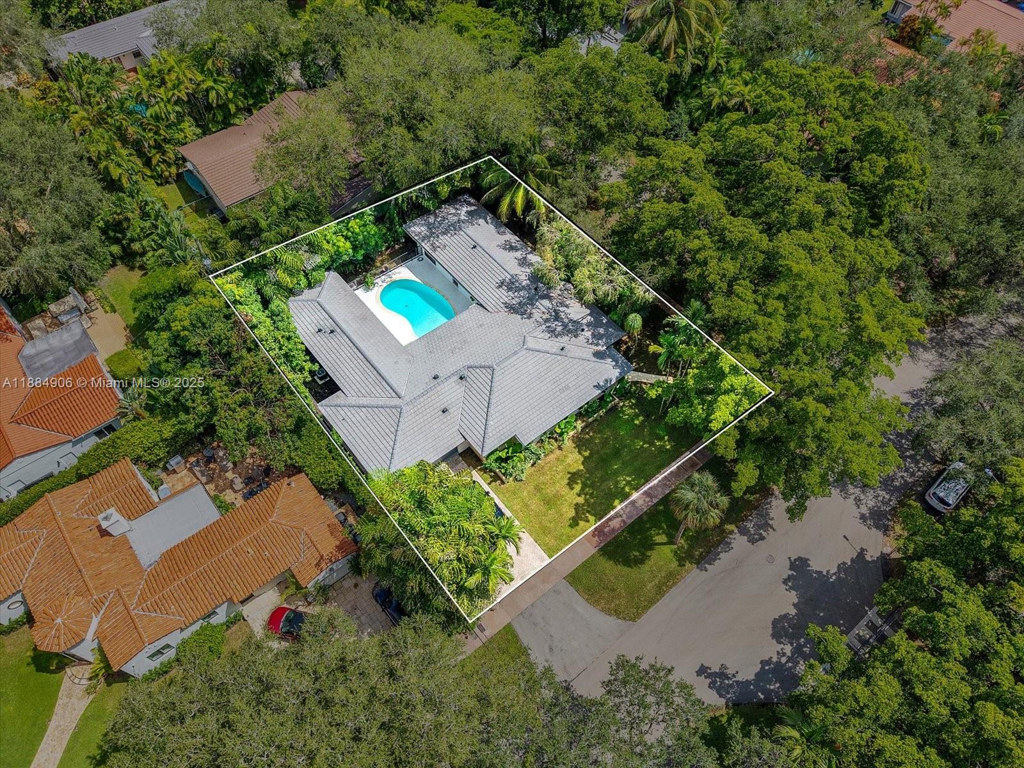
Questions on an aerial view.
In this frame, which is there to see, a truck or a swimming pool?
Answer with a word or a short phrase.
swimming pool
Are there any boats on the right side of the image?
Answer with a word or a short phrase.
No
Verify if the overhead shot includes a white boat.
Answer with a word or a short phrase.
No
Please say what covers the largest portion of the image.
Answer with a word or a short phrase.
trees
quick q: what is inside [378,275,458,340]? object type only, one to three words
swimming pool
